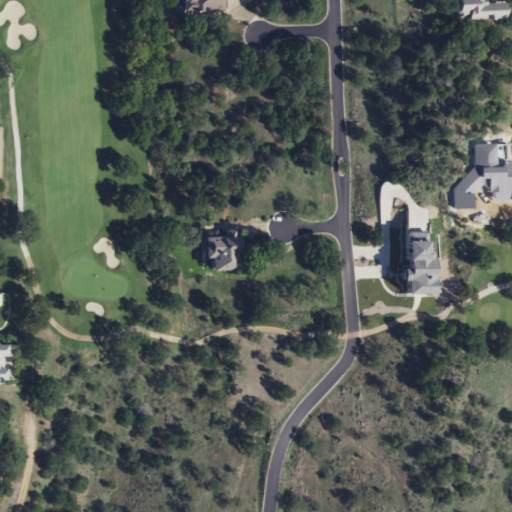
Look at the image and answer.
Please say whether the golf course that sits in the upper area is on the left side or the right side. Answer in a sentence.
It is on the left.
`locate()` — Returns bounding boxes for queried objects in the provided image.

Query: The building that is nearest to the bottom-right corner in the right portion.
[408,232,442,296]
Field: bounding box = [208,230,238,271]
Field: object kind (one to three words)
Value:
house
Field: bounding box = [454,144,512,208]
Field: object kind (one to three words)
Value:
house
